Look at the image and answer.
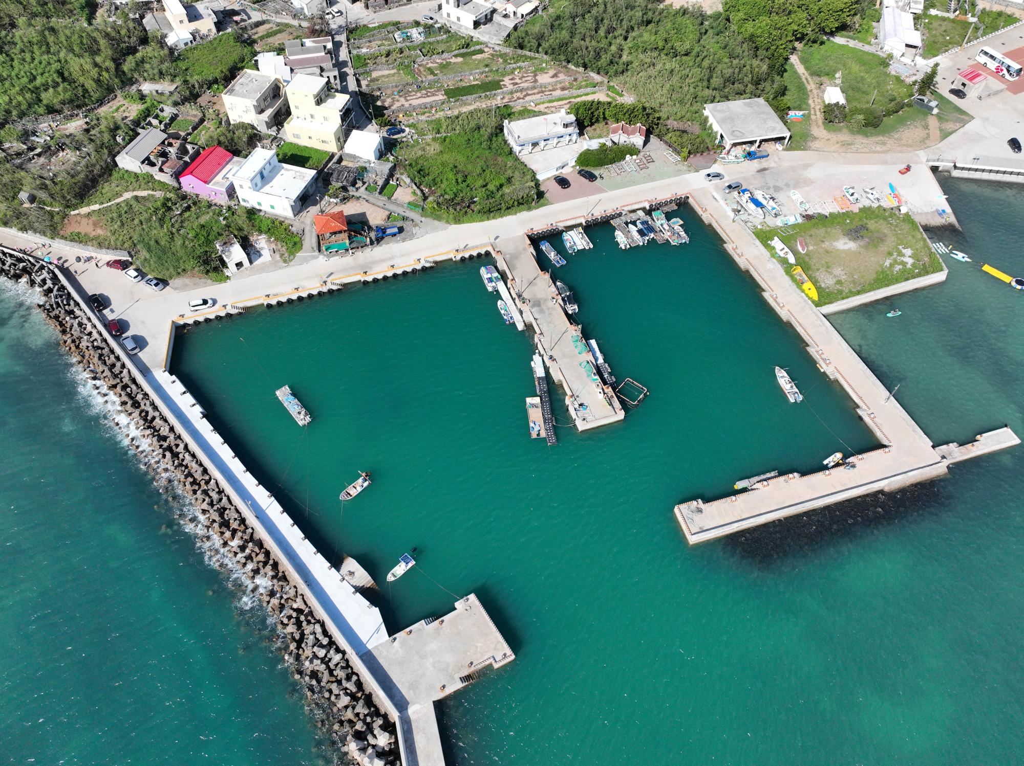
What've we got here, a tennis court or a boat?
boat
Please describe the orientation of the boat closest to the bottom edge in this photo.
diagonally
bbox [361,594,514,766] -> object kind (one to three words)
pier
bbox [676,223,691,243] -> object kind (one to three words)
boat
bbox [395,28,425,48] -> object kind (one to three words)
shed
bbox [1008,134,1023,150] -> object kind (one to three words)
car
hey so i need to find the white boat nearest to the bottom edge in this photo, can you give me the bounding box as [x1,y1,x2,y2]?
[387,548,415,580]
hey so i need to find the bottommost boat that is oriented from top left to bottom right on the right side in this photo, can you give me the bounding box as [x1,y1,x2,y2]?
[778,364,804,403]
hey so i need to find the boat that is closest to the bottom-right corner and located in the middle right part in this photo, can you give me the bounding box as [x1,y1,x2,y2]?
[819,449,845,469]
